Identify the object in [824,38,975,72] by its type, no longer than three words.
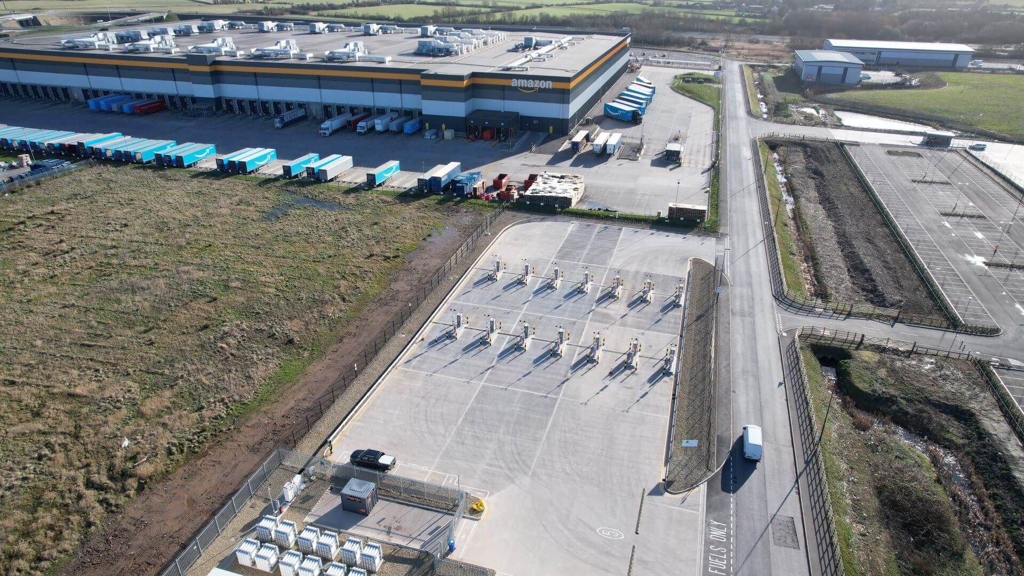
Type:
shed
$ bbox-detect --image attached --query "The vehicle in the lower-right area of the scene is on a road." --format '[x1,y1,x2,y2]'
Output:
[743,425,763,459]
